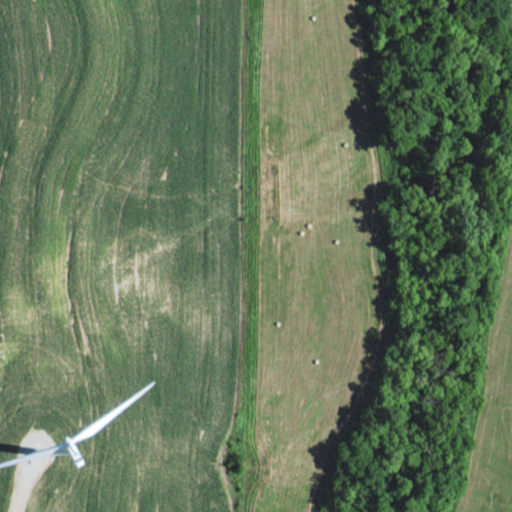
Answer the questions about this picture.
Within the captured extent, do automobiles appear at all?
No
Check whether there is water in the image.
No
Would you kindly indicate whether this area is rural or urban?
rural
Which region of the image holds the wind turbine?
bottom left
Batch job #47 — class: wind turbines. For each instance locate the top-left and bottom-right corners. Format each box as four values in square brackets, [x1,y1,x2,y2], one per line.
[0,381,153,473]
